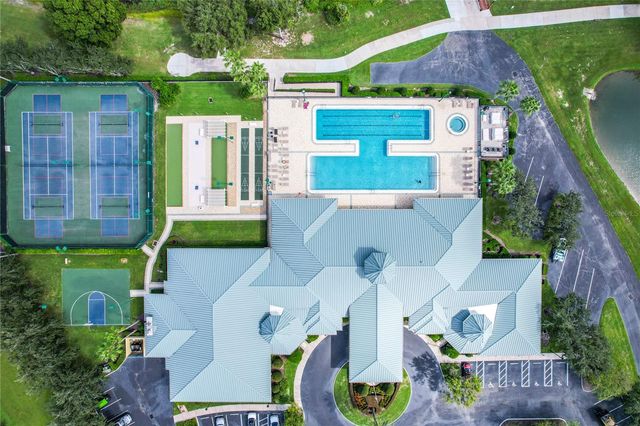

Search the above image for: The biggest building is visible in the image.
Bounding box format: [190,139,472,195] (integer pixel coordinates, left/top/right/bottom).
[144,198,542,402]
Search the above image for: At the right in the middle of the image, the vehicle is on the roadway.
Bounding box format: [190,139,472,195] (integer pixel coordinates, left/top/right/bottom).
[553,240,569,265]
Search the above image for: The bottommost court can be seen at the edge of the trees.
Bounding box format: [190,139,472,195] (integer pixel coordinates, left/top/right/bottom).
[62,269,130,325]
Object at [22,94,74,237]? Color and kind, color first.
blue tennis court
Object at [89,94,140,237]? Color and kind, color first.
blue tennis court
